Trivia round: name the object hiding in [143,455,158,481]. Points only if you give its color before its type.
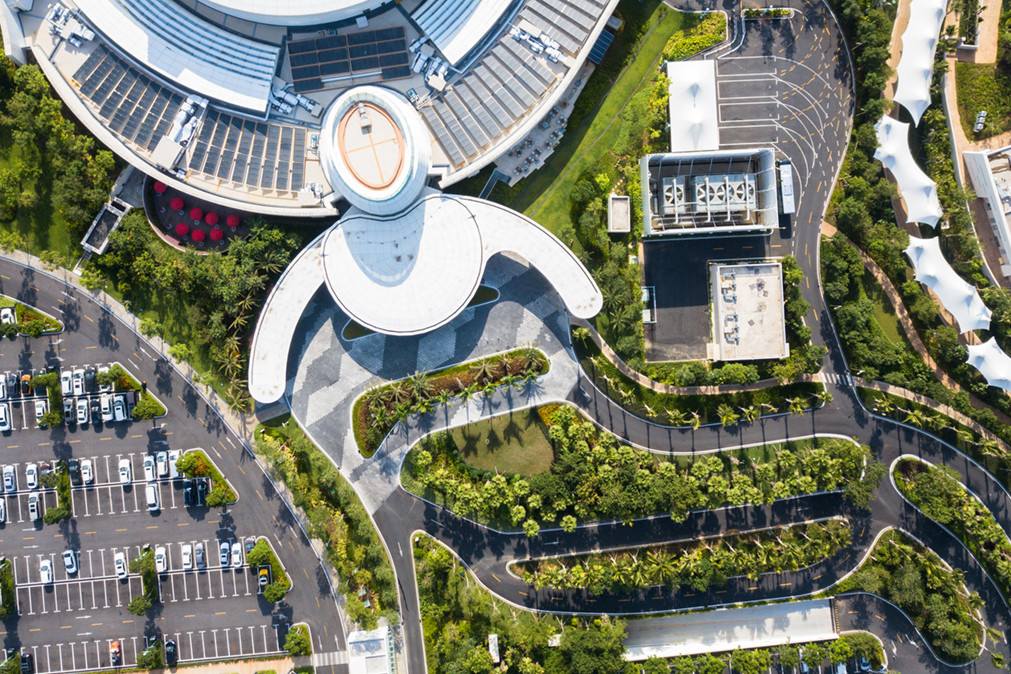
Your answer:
white car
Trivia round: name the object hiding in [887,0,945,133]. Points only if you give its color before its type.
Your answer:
white tent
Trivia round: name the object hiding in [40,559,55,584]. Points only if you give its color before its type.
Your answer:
white car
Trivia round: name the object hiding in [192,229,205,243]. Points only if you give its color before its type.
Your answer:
red umbrella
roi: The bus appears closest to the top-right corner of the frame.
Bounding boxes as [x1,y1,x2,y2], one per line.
[774,164,795,216]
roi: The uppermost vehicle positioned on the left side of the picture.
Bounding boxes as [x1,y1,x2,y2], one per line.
[2,303,17,327]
